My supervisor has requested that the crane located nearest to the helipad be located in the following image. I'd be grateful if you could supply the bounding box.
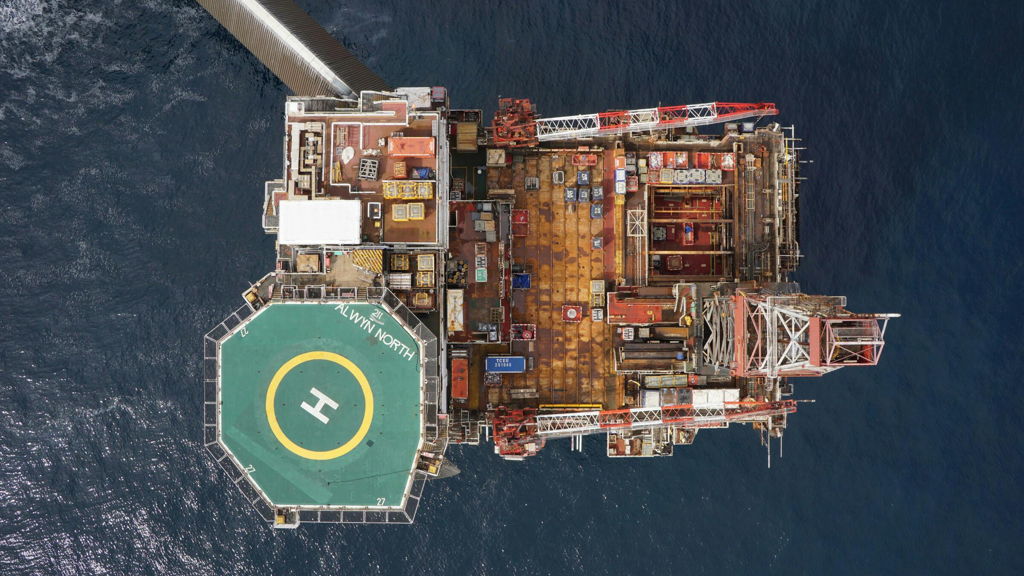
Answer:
[486,398,816,460]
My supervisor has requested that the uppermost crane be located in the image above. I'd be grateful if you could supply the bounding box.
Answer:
[486,94,779,150]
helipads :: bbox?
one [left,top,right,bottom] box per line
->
[204,272,449,527]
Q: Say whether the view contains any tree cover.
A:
No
